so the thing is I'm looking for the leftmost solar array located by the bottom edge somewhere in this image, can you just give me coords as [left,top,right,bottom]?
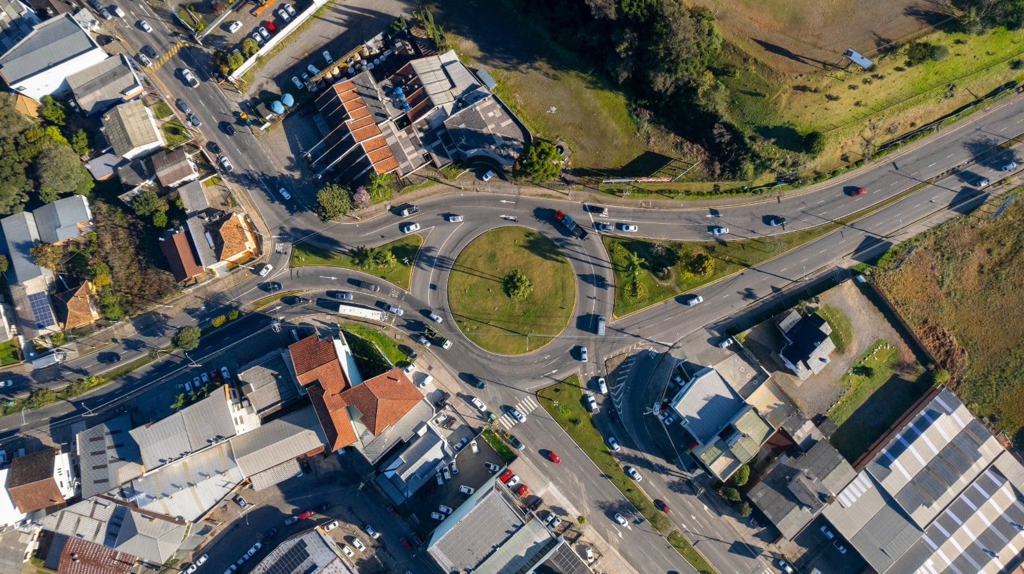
[265,539,310,574]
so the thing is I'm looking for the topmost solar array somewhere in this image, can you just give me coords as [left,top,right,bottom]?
[27,291,55,329]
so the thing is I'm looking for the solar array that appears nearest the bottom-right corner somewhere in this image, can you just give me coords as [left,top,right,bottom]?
[555,546,580,574]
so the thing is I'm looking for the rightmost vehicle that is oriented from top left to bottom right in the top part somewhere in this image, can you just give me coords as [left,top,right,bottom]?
[553,209,587,239]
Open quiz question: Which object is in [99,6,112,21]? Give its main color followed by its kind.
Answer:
gray vehicle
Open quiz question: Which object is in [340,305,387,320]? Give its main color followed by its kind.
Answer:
white vehicle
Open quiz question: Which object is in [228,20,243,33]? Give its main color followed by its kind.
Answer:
white vehicle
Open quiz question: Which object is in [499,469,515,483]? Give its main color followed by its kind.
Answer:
red vehicle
